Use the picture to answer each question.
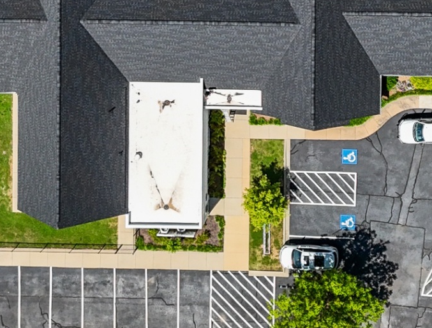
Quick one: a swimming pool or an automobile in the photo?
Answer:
automobile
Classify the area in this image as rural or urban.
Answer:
urban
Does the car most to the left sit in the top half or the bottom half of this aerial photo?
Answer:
bottom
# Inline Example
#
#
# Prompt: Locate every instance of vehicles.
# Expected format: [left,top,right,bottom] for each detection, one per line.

[397,115,432,144]
[281,241,339,272]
